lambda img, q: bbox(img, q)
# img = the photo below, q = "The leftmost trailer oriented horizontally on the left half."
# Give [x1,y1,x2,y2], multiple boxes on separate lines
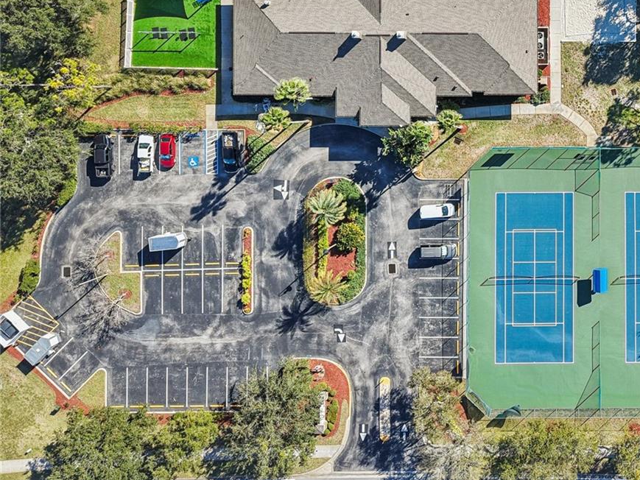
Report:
[146,230,197,254]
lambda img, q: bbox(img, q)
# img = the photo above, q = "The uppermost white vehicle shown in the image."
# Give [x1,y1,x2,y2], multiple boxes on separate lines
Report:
[136,132,158,174]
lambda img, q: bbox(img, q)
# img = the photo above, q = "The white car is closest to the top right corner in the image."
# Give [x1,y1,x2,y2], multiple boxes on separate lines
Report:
[420,203,457,220]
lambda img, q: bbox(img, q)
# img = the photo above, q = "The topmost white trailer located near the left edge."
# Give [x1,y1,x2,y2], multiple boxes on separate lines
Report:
[0,311,36,348]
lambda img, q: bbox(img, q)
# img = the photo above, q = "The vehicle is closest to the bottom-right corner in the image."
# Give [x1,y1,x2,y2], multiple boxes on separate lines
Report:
[419,243,459,260]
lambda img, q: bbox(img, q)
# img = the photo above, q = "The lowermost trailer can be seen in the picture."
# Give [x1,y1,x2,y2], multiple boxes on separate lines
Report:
[21,329,70,369]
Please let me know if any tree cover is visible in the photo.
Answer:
Yes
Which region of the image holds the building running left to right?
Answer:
top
